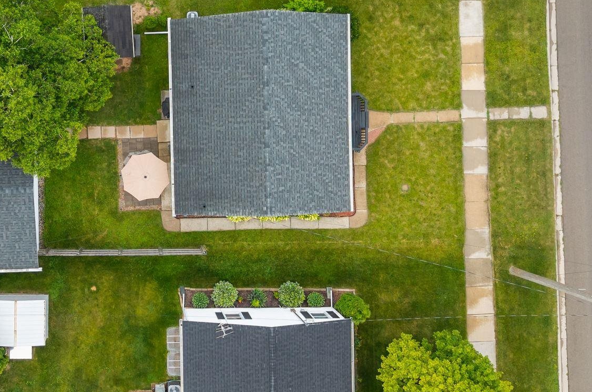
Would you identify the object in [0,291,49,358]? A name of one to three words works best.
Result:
shed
